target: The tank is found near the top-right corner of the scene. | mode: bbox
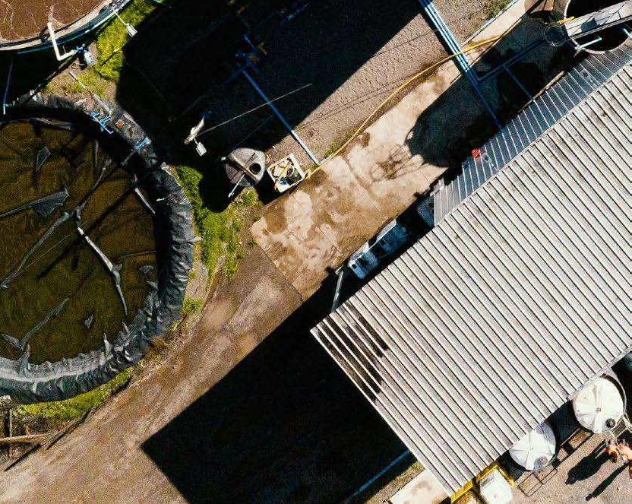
[543,0,632,55]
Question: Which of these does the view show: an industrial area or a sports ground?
industrial area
